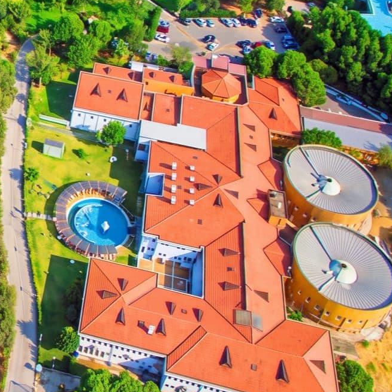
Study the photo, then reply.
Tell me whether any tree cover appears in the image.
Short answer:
Yes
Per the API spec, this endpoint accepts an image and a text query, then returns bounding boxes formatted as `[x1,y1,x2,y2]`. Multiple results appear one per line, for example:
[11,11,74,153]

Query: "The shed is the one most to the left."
[42,138,65,165]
